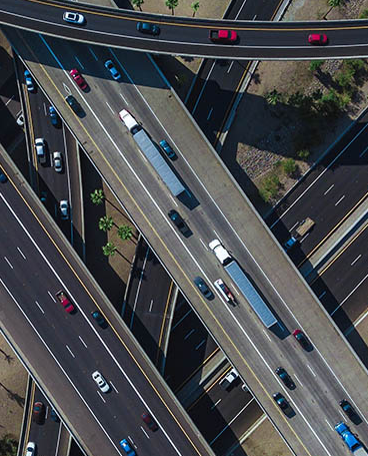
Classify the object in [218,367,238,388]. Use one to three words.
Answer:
vehicle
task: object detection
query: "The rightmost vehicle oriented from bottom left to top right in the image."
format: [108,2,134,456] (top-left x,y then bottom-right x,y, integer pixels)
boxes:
[284,216,315,247]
